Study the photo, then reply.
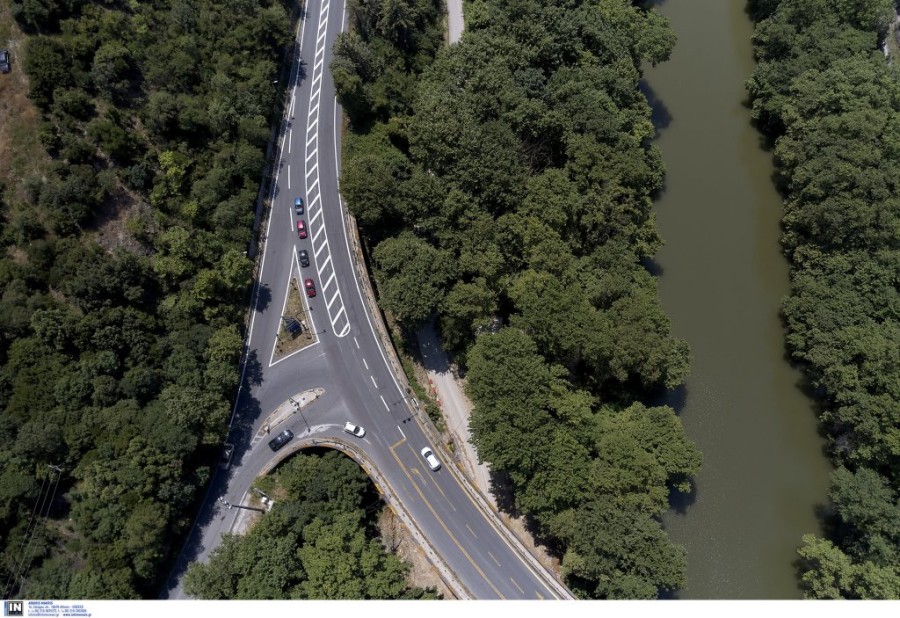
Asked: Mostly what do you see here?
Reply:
trees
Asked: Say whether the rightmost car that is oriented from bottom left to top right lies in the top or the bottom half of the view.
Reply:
bottom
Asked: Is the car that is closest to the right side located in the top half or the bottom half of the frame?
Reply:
bottom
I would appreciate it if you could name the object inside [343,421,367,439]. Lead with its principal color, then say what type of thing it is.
white car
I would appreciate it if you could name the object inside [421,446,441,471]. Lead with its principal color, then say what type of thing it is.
white car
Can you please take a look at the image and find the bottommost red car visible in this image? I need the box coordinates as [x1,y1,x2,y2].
[304,278,317,299]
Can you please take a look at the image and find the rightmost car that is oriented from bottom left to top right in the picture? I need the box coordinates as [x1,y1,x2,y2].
[268,429,294,451]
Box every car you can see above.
[343,421,367,439]
[294,197,304,215]
[268,429,294,451]
[0,51,11,71]
[421,446,441,471]
[299,249,311,268]
[297,220,308,239]
[304,278,317,299]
